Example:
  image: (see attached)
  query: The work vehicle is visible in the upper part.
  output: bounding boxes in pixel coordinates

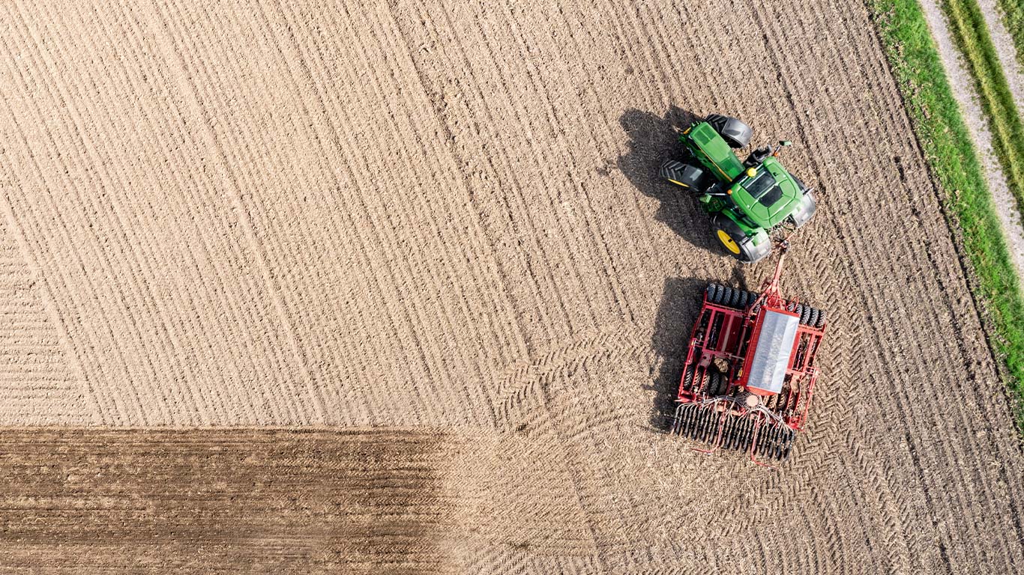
[658,114,817,267]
